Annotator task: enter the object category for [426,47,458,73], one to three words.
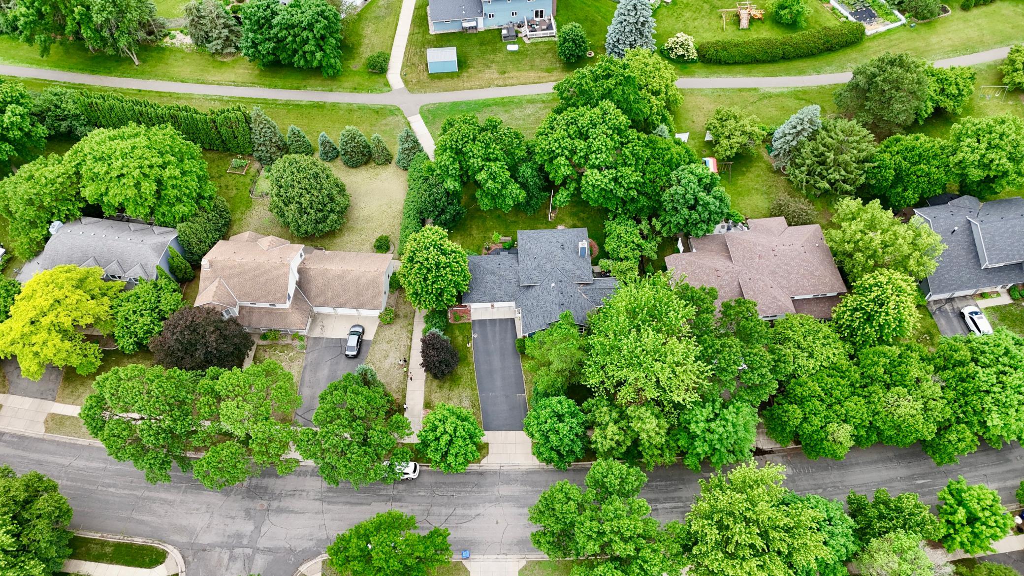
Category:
shed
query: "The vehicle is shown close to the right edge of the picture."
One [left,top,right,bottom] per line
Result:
[964,307,995,338]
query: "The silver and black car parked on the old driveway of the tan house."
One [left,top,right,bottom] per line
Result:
[343,325,364,358]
